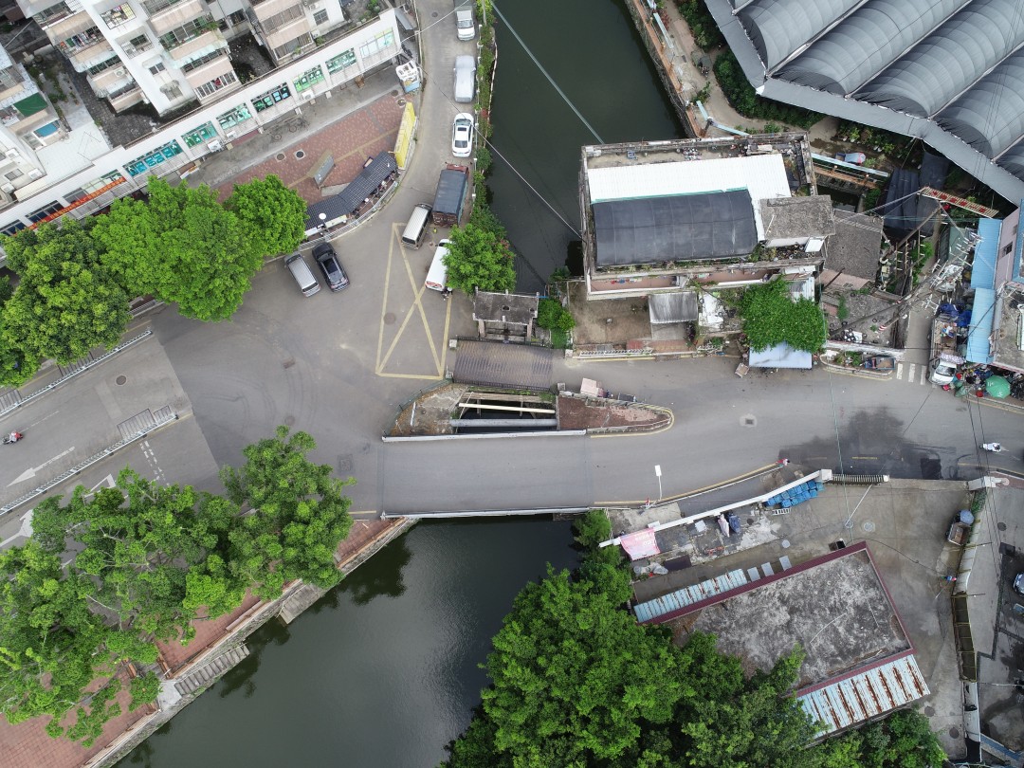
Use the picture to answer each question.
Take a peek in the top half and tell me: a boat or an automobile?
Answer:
automobile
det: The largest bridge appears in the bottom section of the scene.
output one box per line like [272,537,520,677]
[379,430,594,521]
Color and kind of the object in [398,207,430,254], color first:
white car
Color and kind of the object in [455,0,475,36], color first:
white vehicle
